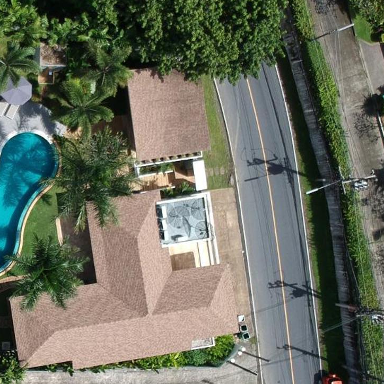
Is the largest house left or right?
left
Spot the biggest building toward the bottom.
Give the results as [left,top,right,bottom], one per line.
[8,189,239,370]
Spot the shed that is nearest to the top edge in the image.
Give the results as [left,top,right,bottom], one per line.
[37,46,66,85]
